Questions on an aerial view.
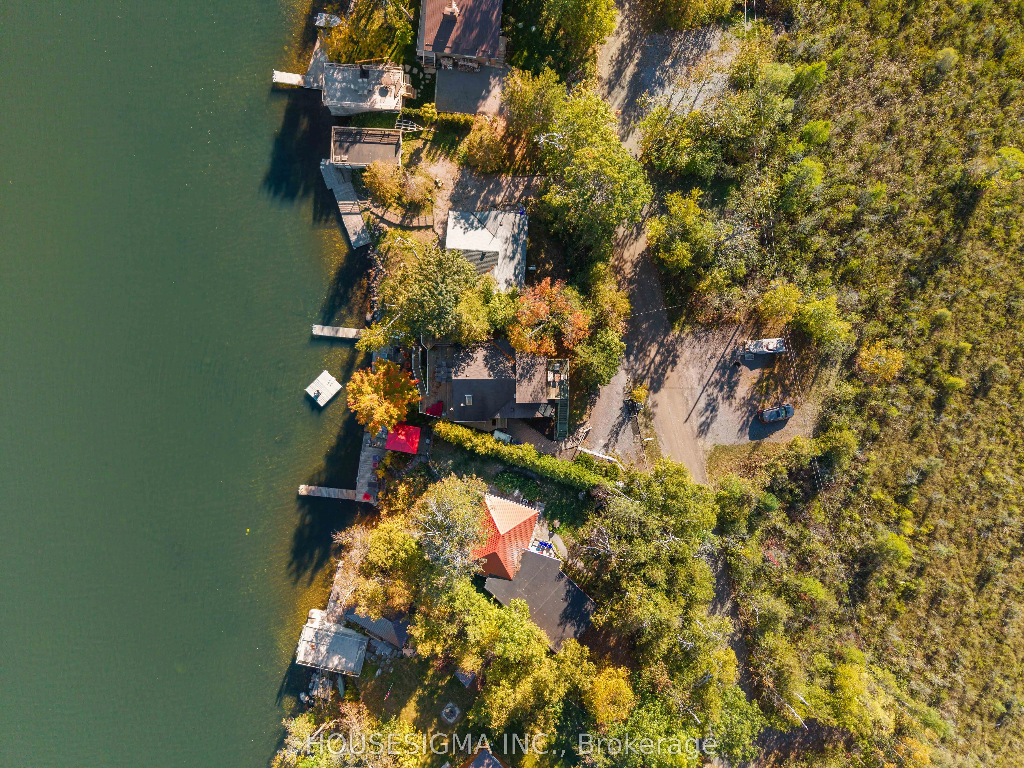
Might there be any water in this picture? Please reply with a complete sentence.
Yes, water can be seen from above here.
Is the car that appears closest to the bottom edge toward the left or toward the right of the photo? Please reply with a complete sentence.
You can find the car that appears closest to the bottom edge on the right side of the picture.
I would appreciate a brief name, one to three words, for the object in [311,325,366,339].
pier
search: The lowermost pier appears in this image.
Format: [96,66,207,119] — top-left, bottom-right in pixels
[297,485,356,500]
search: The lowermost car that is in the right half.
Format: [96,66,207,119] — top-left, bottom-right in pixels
[754,403,794,424]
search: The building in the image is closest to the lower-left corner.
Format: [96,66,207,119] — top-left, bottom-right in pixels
[297,622,369,677]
